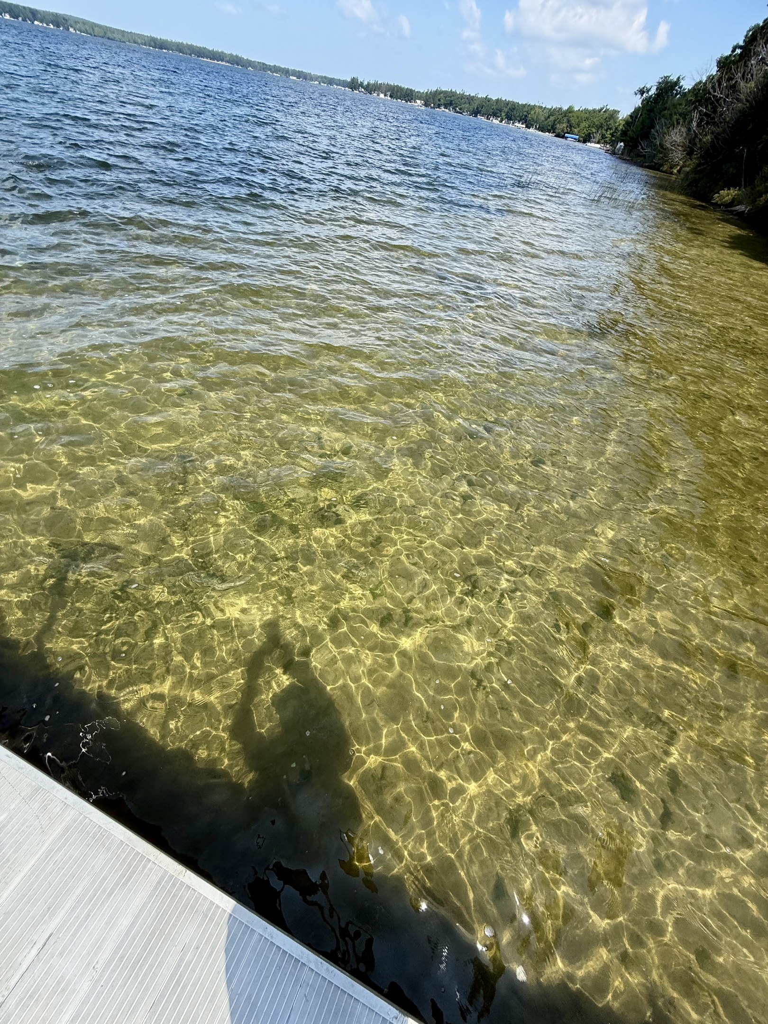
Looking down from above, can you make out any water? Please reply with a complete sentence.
Yes, water can be seen from above here.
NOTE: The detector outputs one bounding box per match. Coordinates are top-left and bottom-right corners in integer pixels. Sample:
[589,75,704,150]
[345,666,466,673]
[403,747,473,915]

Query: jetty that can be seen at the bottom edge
[0,742,429,1024]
